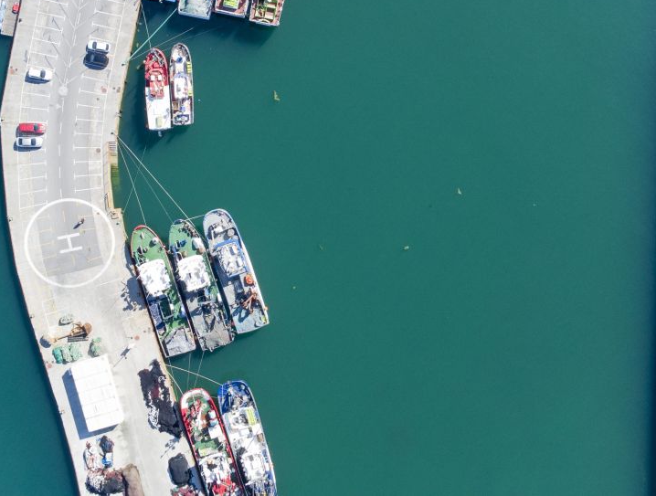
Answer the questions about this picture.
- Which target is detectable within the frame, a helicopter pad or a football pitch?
helicopter pad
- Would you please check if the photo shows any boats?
Yes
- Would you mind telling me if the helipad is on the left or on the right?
left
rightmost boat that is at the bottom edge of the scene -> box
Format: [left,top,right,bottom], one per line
[220,380,279,496]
